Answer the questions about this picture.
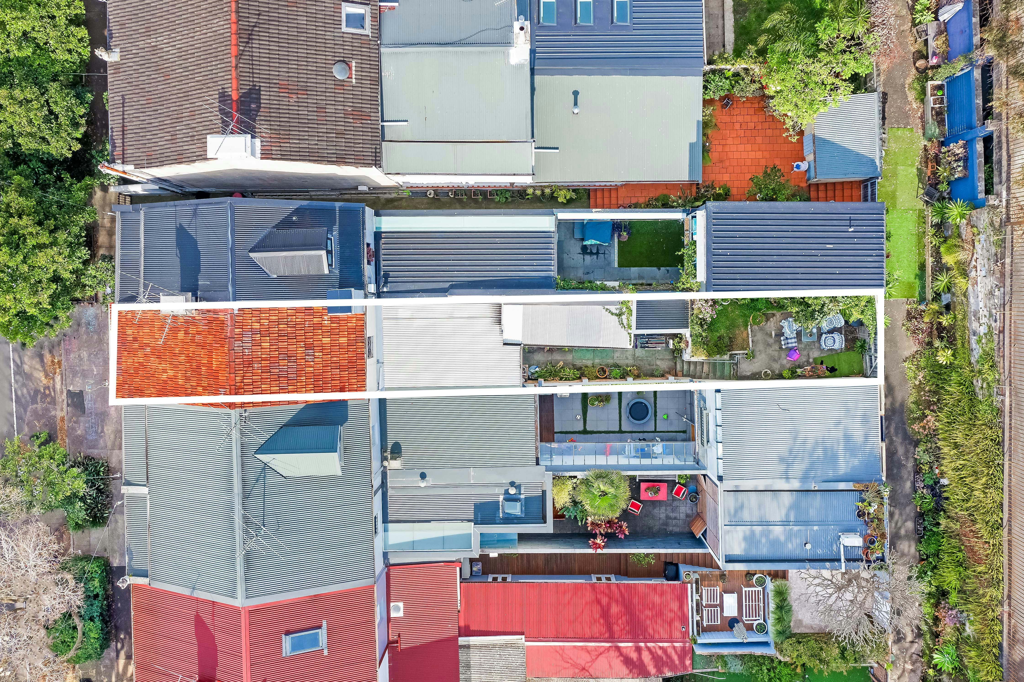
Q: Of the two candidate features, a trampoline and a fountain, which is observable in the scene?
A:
trampoline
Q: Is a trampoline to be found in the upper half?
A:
No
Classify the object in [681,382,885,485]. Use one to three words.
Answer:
building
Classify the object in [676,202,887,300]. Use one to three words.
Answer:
building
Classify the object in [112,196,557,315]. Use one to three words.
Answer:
house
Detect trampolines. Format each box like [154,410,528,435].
[626,399,651,423]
